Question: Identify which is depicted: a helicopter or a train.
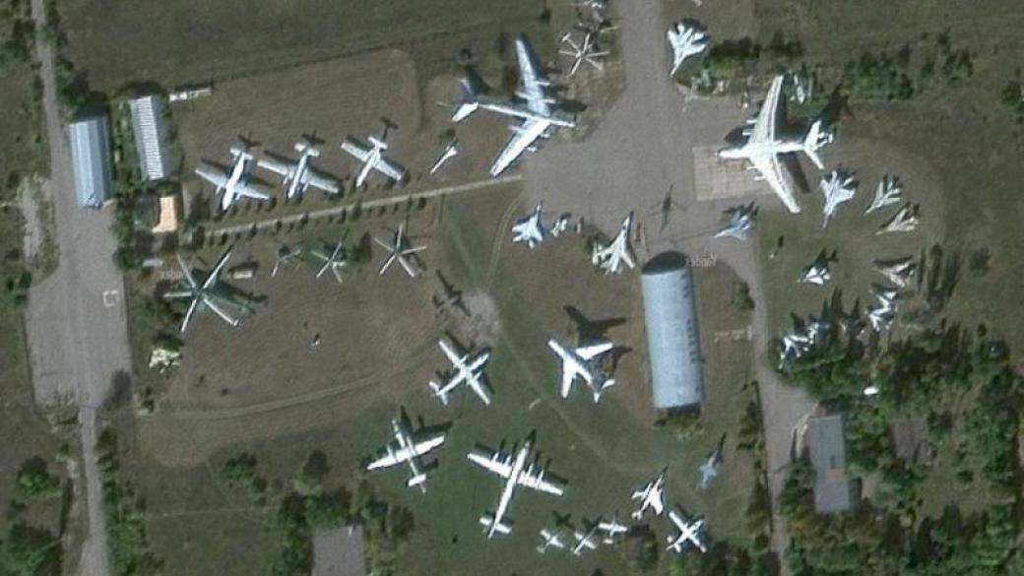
helicopter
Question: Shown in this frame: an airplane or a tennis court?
airplane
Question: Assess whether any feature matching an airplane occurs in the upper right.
Yes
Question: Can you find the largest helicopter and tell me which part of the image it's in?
left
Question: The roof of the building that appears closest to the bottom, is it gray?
Yes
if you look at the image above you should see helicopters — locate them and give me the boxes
[269,243,302,276]
[555,26,608,80]
[313,241,357,284]
[573,3,616,53]
[645,181,688,236]
[375,224,424,279]
[160,252,250,335]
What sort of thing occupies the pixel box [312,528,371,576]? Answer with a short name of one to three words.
building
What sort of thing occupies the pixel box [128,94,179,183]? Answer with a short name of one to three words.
building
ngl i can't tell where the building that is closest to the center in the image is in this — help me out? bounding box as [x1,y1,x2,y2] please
[643,267,707,408]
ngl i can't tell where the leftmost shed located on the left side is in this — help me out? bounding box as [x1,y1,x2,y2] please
[68,116,119,208]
